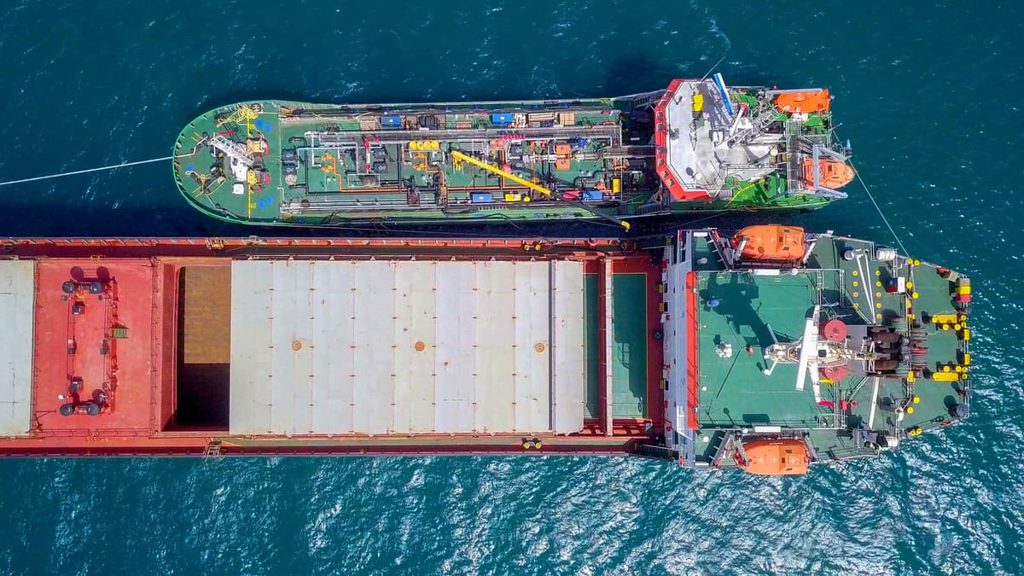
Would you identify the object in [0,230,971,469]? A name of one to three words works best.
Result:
ship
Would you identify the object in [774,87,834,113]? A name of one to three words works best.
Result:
boat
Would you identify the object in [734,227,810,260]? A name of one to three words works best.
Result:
boat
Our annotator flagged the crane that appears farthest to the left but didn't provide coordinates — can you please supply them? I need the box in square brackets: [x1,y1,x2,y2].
[450,148,632,233]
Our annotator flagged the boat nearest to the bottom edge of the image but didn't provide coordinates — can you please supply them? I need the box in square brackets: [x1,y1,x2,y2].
[737,438,814,472]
